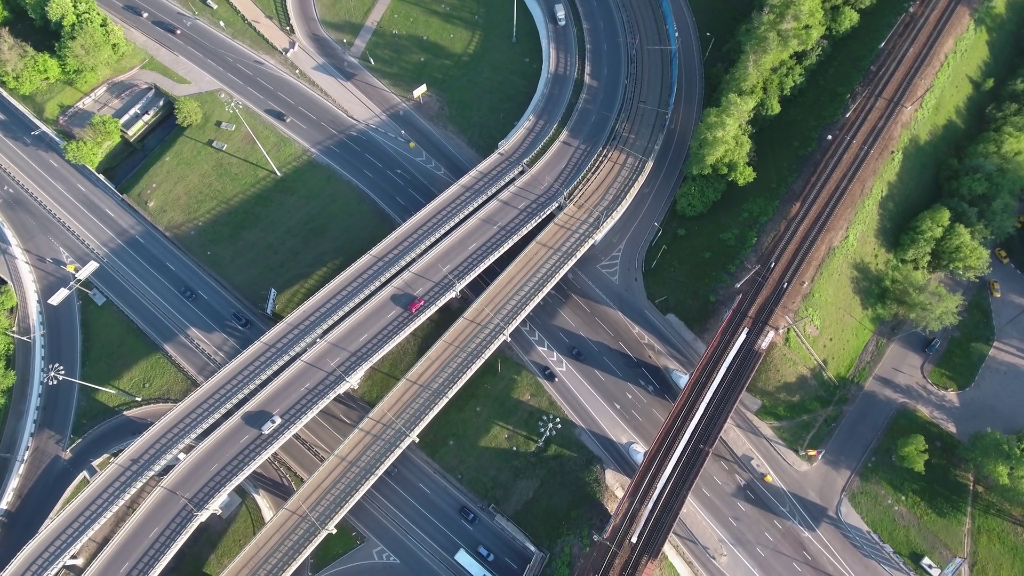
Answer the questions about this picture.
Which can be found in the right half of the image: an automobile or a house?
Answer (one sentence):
What appears in the right half of the image is an automobile.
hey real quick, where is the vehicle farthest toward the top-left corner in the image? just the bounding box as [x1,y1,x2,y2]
[129,5,147,18]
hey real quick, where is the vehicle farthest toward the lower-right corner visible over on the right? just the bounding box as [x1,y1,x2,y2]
[923,336,941,356]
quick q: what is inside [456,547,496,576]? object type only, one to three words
bus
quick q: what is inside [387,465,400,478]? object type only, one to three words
vehicle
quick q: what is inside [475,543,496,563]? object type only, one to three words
car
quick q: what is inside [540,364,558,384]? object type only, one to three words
car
